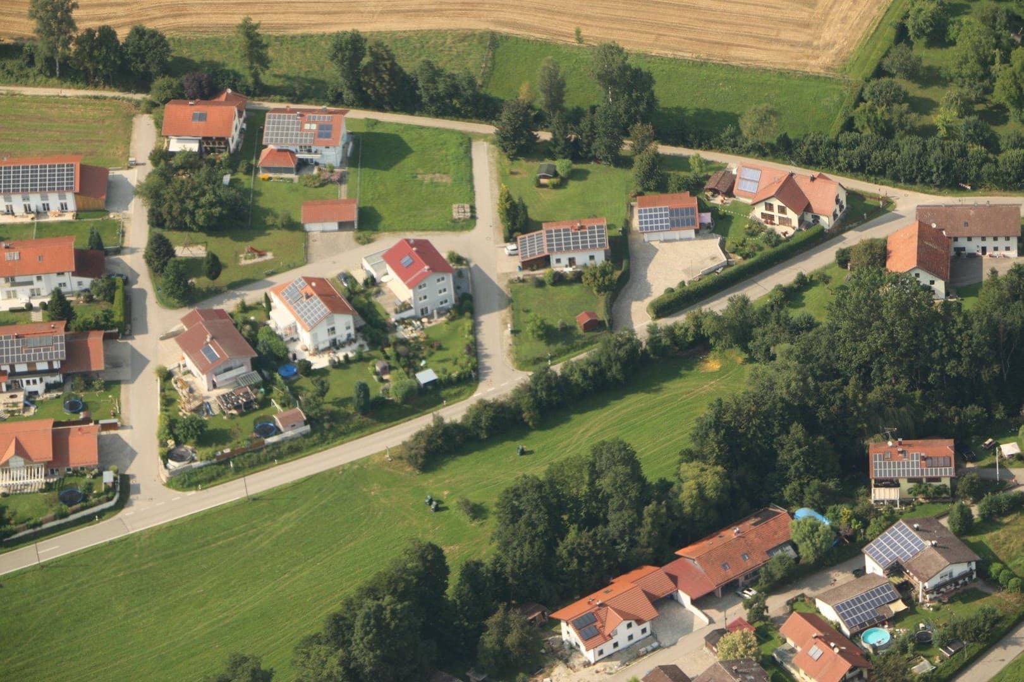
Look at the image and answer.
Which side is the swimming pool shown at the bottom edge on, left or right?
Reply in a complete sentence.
You can find the swimming pool shown at the bottom edge on the right side of the picture.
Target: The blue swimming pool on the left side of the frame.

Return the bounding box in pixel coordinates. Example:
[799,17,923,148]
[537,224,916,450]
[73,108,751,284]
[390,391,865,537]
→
[277,366,297,383]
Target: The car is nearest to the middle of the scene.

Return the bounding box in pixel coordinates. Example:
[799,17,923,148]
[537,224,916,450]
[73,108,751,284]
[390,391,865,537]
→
[501,244,520,256]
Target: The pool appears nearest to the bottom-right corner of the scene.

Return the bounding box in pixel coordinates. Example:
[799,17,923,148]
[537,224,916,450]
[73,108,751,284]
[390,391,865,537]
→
[861,626,890,651]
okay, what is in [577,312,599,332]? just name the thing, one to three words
shed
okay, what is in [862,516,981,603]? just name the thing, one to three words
house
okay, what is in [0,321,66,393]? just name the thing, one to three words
house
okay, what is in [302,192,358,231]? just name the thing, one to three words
building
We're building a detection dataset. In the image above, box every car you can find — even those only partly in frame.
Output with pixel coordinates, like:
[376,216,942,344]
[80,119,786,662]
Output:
[977,436,1000,451]
[501,244,520,256]
[735,584,757,601]
[846,566,871,580]
[334,271,354,288]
